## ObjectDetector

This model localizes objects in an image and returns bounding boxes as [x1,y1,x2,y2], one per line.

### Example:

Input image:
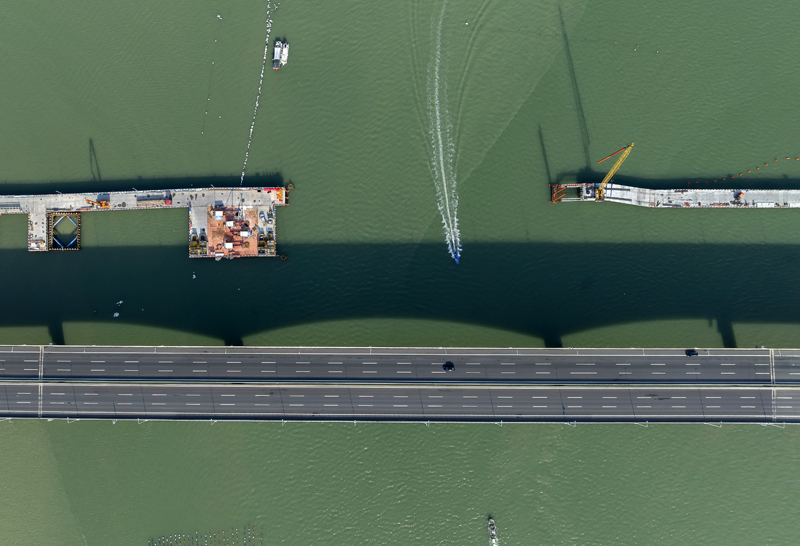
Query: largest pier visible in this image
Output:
[28,212,49,252]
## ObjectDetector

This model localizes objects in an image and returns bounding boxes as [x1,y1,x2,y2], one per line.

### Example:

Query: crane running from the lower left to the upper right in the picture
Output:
[594,143,634,203]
